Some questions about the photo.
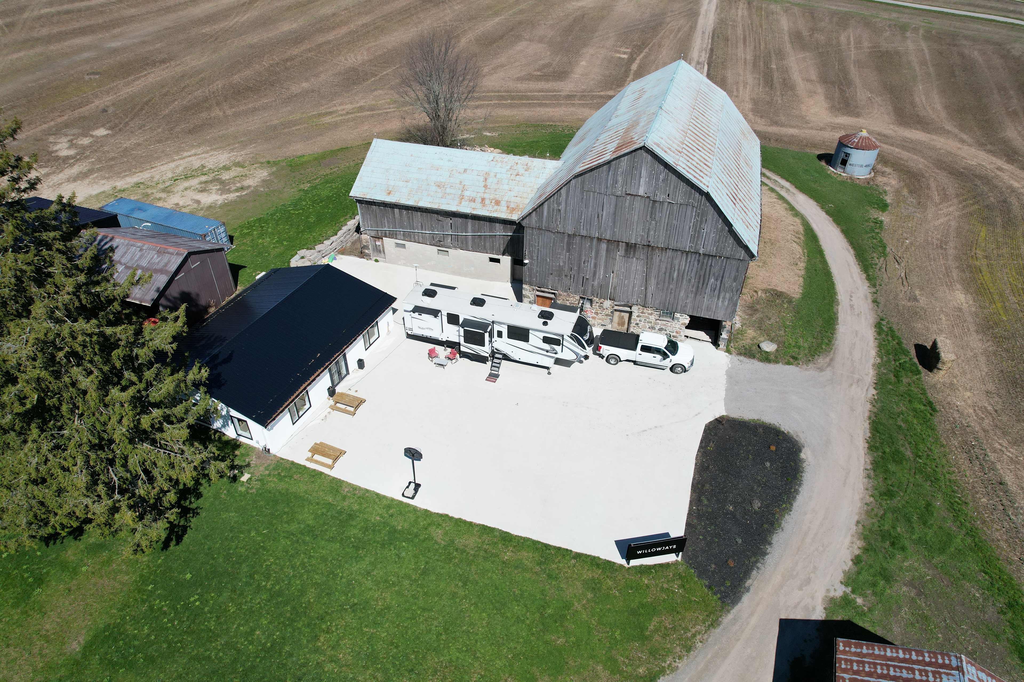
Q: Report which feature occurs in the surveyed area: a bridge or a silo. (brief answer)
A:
silo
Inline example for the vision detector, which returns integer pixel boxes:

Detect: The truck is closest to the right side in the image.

[594,330,694,373]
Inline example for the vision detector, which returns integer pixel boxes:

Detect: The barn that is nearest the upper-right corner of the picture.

[515,49,762,352]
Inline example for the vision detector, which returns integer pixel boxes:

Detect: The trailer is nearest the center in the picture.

[403,262,595,378]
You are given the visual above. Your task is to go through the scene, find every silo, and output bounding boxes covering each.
[829,130,881,178]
